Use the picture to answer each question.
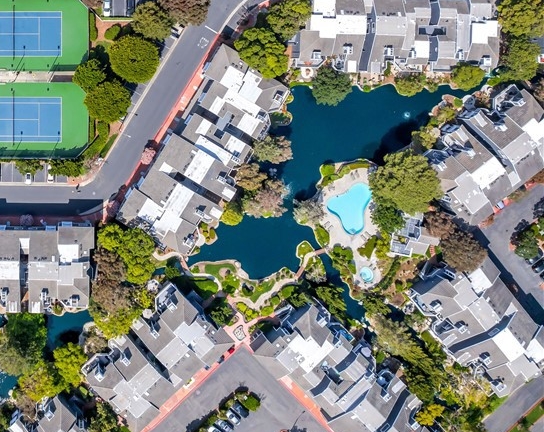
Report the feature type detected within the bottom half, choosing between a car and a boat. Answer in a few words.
car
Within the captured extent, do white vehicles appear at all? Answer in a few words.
Yes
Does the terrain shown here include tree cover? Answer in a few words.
Yes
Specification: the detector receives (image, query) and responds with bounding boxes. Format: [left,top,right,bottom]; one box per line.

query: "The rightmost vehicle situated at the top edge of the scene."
[219,20,235,40]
